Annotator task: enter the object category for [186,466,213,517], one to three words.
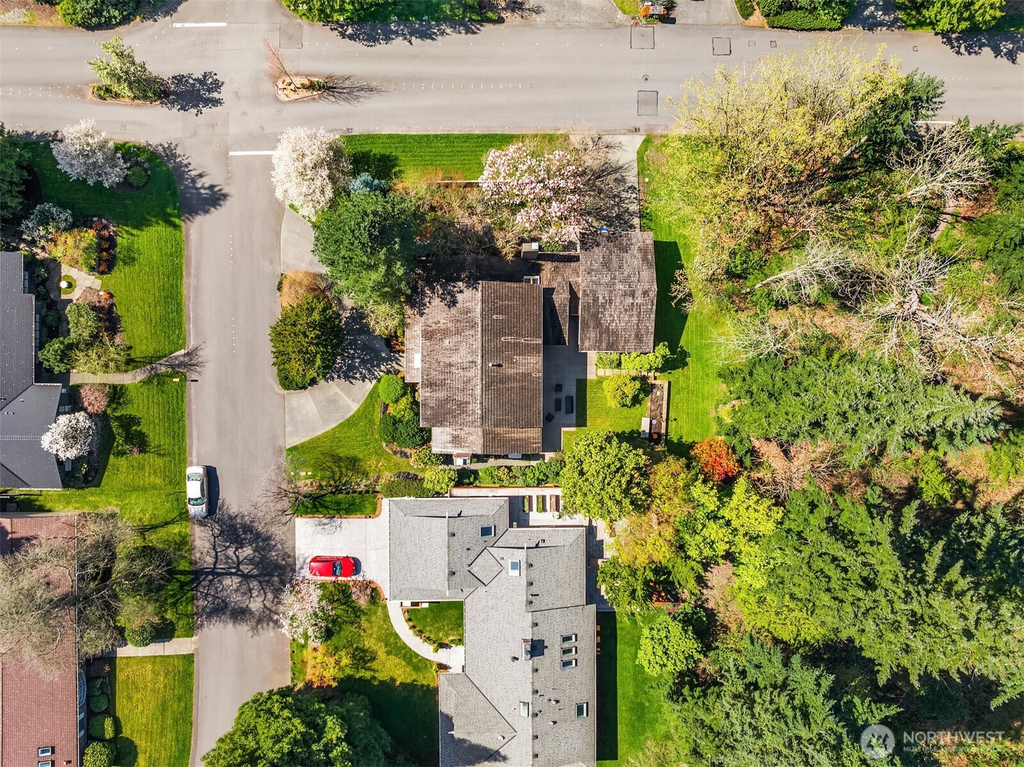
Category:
car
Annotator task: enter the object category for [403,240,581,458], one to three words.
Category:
house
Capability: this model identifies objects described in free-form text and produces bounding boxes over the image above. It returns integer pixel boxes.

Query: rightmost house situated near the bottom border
[388,496,597,767]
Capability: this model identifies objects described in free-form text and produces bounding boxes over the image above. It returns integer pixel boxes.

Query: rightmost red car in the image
[309,555,356,580]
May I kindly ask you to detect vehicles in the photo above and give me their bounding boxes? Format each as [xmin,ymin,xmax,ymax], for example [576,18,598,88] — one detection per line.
[186,466,213,517]
[309,555,356,580]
